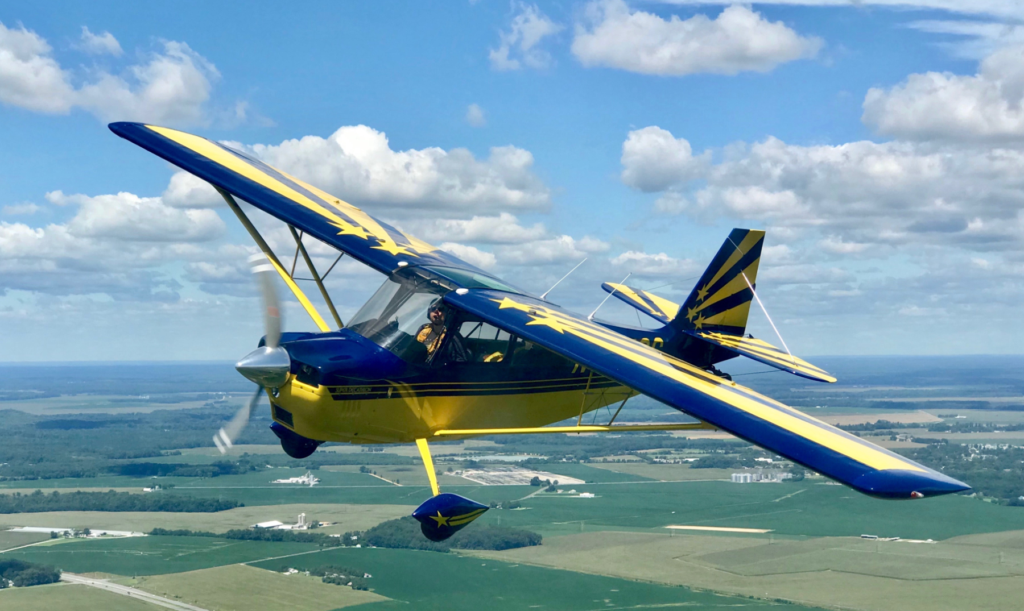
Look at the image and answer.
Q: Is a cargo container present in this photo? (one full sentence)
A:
No, I can see no cargo container in this picture.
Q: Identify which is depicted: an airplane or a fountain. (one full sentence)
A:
Of the two, only an airplane appears.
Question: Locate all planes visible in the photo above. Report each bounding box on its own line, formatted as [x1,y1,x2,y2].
[103,124,973,543]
